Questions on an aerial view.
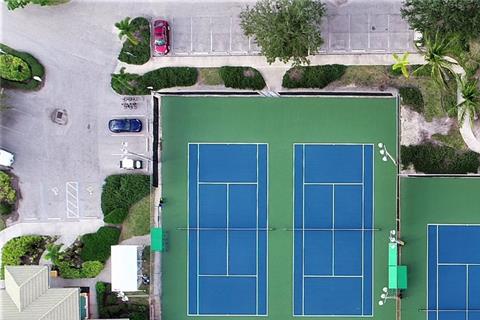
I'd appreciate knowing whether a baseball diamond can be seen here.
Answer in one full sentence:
No, there appears to be no baseball diamond in this shot.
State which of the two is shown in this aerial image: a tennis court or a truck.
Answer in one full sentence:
The image shows a tennis court.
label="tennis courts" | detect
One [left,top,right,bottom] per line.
[400,178,480,320]
[161,95,281,320]
[281,95,396,320]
